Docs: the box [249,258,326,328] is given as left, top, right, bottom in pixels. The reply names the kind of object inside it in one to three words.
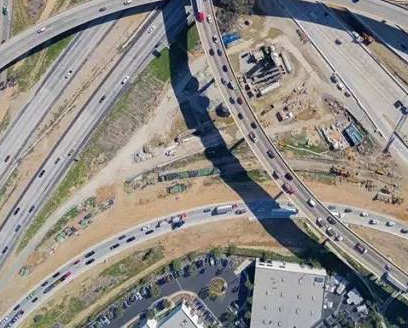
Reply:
building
